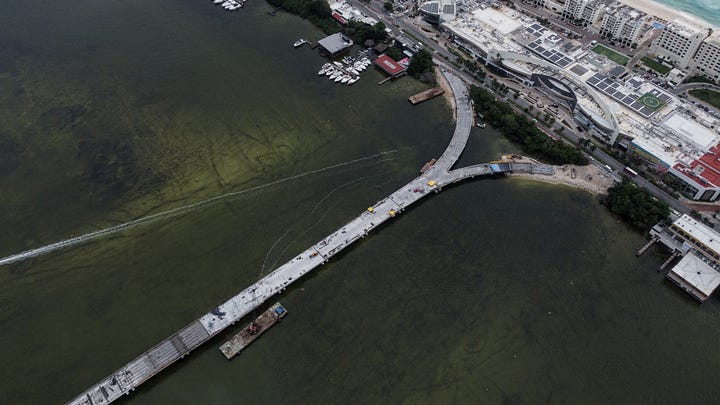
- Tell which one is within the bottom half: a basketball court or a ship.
ship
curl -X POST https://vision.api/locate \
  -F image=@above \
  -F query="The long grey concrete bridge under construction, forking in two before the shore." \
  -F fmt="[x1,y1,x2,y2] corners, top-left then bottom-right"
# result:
[63,70,555,405]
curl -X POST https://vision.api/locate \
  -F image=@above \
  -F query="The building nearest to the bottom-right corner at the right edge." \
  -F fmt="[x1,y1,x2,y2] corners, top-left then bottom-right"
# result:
[660,254,720,311]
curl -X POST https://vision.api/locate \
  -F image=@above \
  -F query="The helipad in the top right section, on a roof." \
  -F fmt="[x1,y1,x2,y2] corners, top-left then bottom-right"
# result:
[635,92,667,113]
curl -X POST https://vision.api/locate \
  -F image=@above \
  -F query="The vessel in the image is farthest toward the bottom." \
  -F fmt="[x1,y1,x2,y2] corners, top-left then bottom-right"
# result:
[219,302,288,359]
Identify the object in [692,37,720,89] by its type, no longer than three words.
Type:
building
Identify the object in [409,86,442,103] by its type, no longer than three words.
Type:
ship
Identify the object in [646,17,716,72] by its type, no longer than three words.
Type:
building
